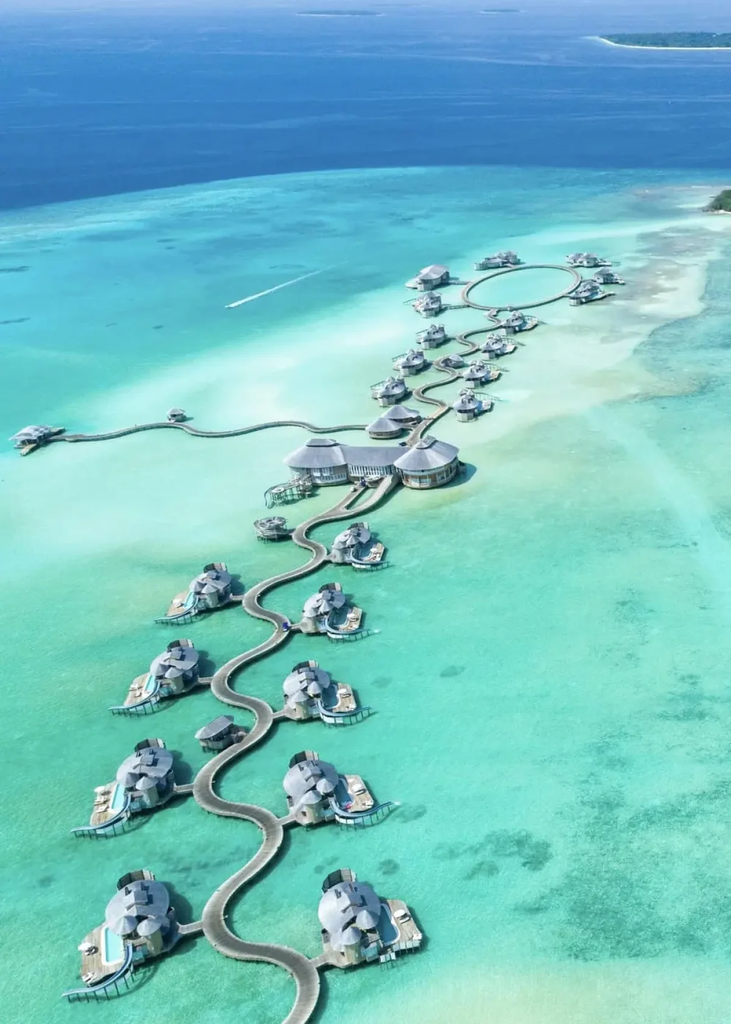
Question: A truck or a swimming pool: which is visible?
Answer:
swimming pool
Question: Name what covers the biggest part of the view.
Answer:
water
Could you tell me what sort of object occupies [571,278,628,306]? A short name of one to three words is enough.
house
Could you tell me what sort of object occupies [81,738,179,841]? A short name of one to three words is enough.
house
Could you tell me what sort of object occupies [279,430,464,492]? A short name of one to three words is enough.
building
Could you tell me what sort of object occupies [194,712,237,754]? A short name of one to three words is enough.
building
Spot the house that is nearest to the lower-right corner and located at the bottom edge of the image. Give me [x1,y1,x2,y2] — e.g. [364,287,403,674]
[318,868,422,977]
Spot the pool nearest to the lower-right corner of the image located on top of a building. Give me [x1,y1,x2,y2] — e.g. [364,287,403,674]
[375,902,401,950]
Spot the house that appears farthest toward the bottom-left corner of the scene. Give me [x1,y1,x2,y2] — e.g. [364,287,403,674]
[62,864,178,999]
